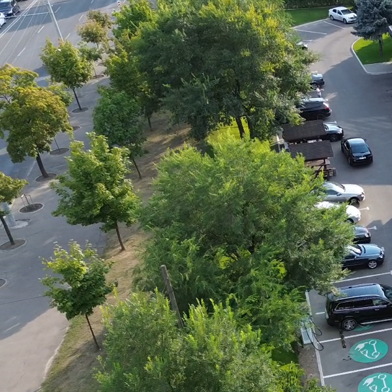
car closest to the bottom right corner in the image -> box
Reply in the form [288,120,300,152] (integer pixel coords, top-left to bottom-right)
[325,281,392,330]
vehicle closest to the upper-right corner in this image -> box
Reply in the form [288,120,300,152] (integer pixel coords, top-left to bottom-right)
[329,7,356,23]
